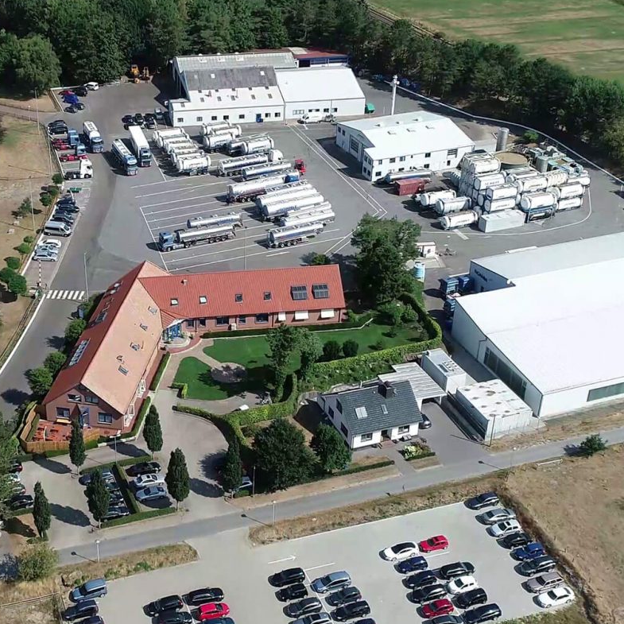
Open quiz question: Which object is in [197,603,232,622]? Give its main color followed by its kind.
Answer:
red car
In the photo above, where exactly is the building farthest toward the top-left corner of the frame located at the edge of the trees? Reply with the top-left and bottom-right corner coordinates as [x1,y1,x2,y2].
[170,49,295,126]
